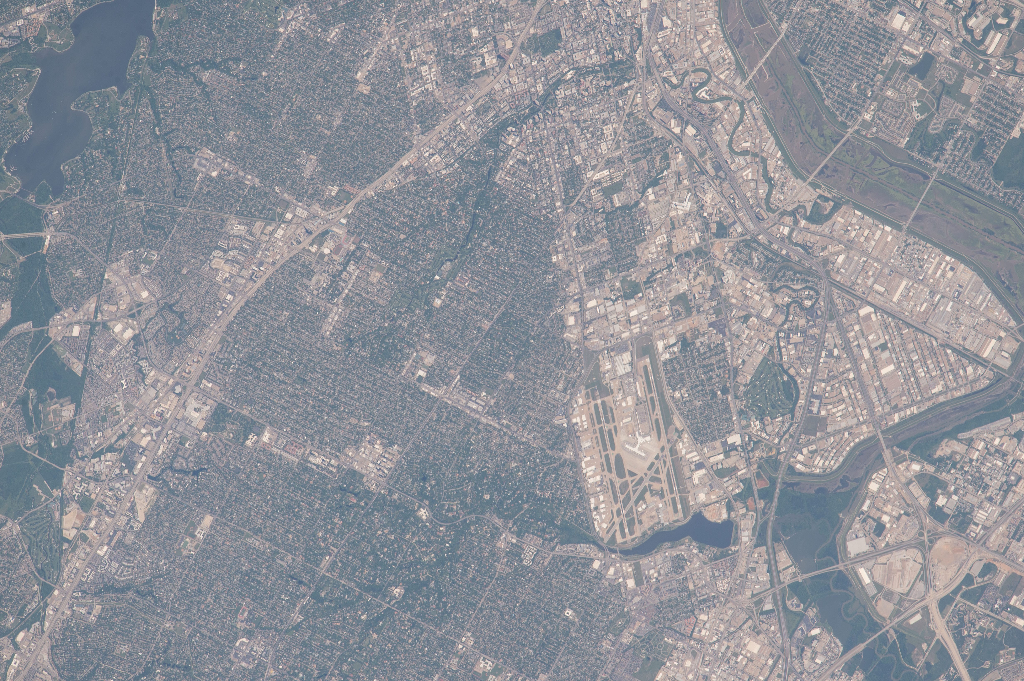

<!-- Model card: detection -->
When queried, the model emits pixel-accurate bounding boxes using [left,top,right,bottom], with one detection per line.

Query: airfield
[571,332,697,547]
